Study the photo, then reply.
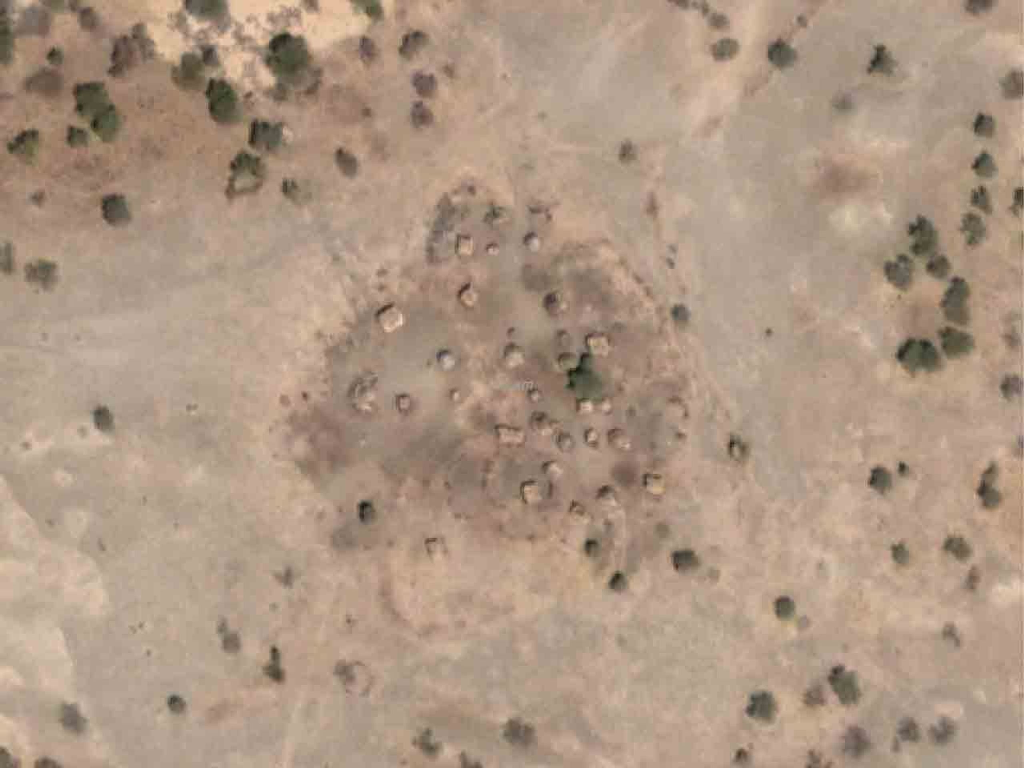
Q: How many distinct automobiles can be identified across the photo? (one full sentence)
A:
The count of automobiles is 0.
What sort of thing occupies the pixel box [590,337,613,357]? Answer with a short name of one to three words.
house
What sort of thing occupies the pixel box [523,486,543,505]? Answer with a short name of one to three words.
house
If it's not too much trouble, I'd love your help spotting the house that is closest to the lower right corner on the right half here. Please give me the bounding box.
[647,477,666,496]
